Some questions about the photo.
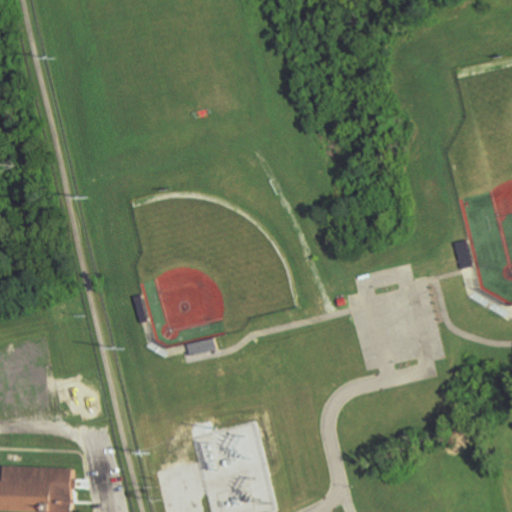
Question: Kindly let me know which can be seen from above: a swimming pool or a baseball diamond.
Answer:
baseball diamond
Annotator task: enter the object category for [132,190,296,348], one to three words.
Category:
baseball field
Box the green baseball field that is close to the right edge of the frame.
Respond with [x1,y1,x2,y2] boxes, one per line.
[448,57,512,304]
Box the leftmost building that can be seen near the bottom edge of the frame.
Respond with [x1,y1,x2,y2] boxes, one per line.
[0,466,80,512]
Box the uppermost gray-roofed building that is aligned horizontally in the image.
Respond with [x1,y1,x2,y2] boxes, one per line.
[186,338,218,356]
